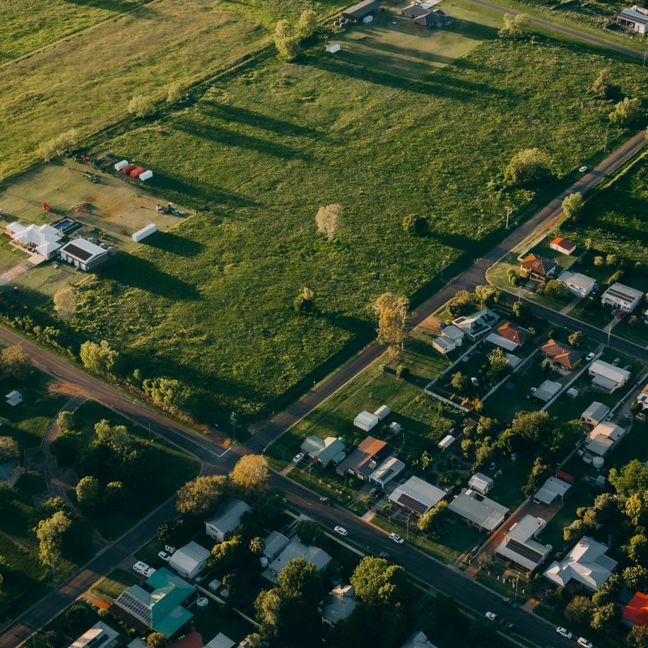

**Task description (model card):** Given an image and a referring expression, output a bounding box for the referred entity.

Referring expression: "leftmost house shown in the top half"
[4,221,62,260]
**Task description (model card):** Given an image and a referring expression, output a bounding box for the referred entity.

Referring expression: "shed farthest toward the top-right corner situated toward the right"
[616,9,648,31]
